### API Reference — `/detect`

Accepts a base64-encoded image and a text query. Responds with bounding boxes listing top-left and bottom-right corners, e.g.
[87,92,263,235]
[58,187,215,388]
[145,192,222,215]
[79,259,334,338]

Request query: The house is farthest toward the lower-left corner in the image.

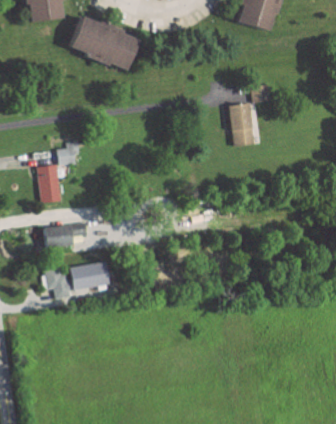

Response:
[42,273,71,301]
